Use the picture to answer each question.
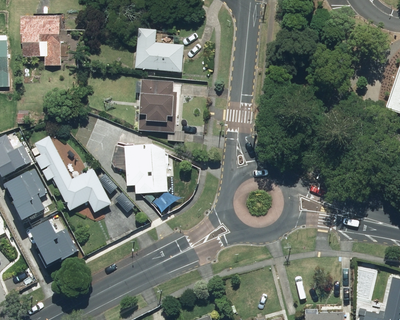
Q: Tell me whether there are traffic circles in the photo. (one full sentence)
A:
Yes, this view includes a traffic circle.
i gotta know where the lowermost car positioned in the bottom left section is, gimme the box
[28,302,46,316]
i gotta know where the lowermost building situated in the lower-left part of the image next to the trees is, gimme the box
[27,222,78,266]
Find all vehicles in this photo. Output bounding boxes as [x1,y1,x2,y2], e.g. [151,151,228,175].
[344,220,362,228]
[310,288,320,304]
[258,294,268,310]
[308,185,322,196]
[21,276,36,288]
[13,272,29,284]
[188,44,202,58]
[334,282,342,298]
[183,33,199,45]
[184,126,198,134]
[343,288,351,304]
[296,276,306,300]
[28,302,46,316]
[104,263,119,274]
[246,142,257,158]
[342,270,350,286]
